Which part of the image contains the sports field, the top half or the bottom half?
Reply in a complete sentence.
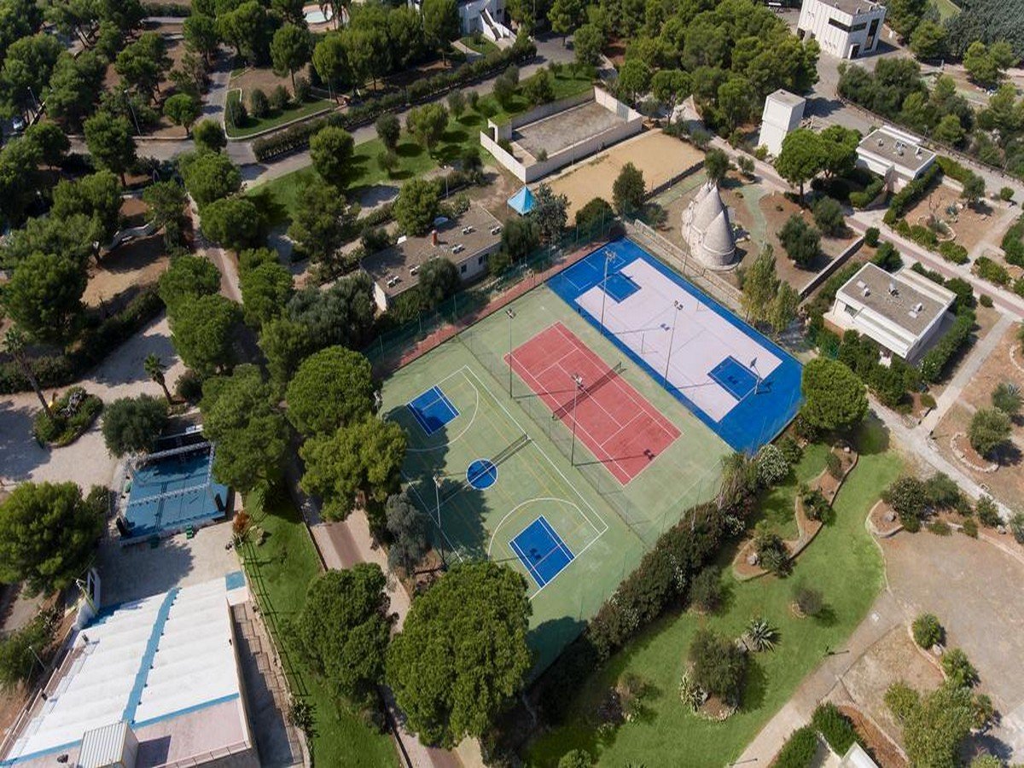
The sports field sits in the top half of the picture.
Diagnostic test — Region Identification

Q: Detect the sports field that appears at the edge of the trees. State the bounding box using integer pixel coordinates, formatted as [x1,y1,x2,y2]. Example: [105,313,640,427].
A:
[537,131,703,225]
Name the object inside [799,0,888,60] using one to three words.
building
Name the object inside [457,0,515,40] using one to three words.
house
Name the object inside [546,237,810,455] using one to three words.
basketball court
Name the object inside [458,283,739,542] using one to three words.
tennis court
